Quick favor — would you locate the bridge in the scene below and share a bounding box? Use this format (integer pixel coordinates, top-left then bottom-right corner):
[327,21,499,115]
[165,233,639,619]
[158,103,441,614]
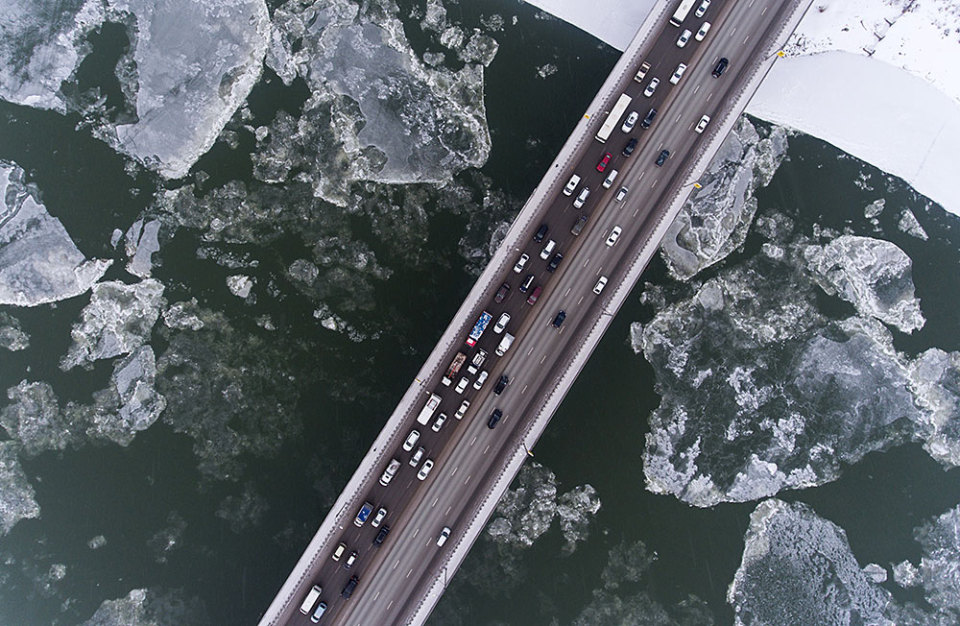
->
[260,0,814,626]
